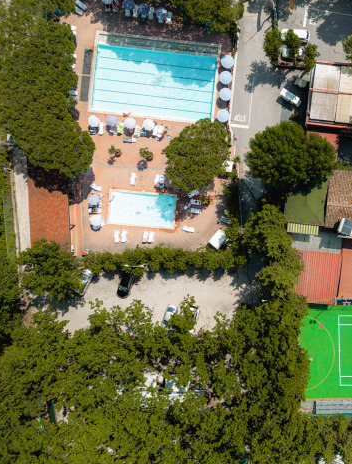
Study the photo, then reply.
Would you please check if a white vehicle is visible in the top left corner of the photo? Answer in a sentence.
No, I can find no white vehicle in the top left corner of the photo.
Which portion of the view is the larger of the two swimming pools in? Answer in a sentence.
You can find the larger of the two swimming pools in the top area of the picture.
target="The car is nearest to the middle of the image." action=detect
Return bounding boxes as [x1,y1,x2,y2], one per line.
[117,266,136,295]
